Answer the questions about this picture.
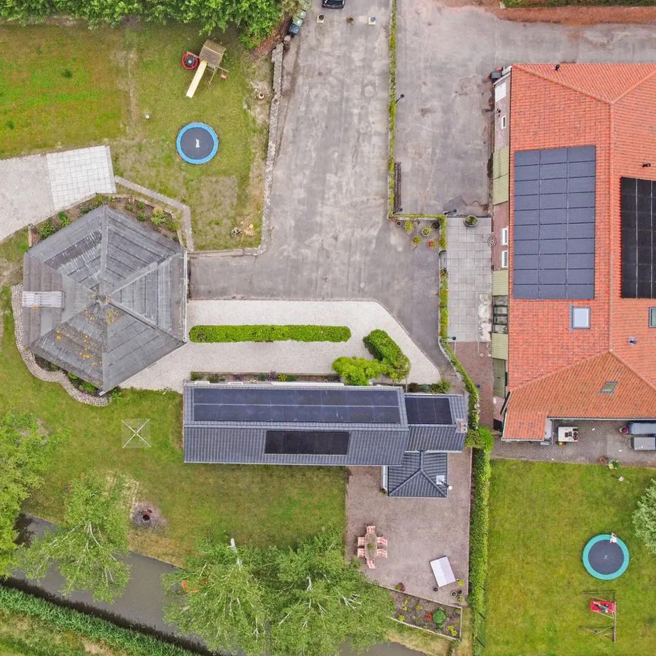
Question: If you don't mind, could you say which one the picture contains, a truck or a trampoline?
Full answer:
I can see a trampoline in this picture.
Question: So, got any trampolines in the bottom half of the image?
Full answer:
Yes, a trampoline is visible in the bottom half of the image.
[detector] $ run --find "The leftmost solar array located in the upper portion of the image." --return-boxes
[513,145,597,300]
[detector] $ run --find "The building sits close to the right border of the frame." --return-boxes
[492,61,656,443]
